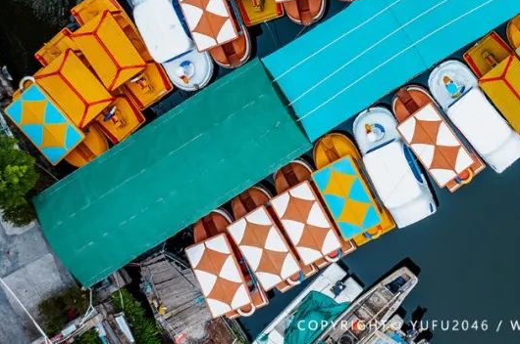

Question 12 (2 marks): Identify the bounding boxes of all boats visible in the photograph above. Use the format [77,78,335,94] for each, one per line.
[32,27,148,143]
[322,269,417,344]
[131,0,213,99]
[273,159,361,274]
[355,105,435,227]
[238,0,284,43]
[272,0,324,27]
[246,263,366,344]
[464,33,520,131]
[187,208,271,322]
[431,57,520,171]
[172,0,244,71]
[312,131,396,245]
[65,0,174,117]
[231,185,320,295]
[393,85,487,192]
[363,311,409,344]
[1,62,112,165]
